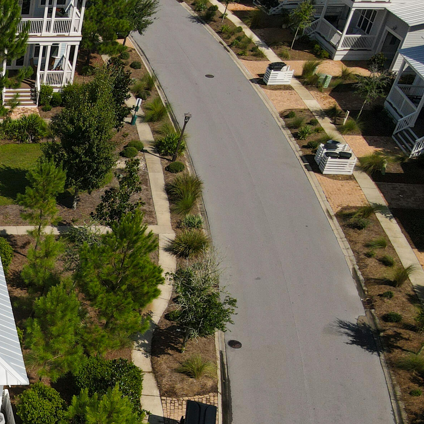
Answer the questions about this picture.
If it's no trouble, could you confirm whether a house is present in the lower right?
No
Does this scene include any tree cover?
Yes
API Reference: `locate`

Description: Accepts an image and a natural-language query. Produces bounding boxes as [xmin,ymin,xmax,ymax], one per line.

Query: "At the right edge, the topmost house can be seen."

[289,0,424,70]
